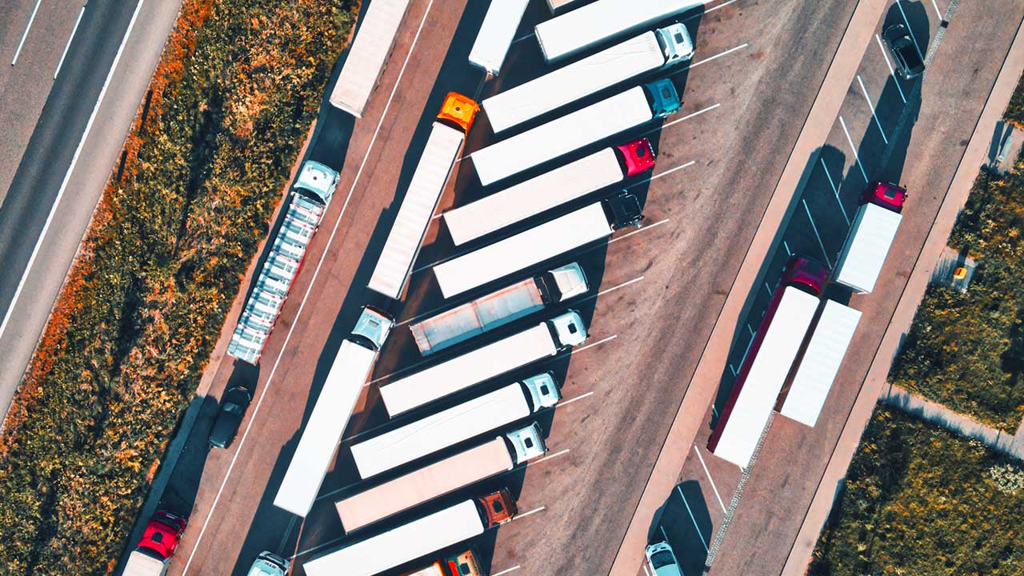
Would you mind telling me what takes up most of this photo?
paved ground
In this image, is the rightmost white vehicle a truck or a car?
truck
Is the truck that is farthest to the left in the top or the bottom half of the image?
bottom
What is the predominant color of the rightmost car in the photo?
black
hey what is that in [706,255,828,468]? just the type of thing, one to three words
truck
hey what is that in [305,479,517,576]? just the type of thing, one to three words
truck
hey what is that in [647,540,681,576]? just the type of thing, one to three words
vehicle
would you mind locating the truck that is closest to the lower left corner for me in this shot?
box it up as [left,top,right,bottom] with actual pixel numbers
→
[122,508,190,576]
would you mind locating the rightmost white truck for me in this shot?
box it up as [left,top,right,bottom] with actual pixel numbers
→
[771,177,908,426]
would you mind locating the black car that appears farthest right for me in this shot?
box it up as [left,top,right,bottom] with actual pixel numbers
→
[883,25,927,83]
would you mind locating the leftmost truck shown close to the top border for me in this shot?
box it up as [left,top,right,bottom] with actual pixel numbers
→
[330,0,420,122]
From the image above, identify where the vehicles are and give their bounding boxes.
[444,135,653,246]
[253,548,298,576]
[227,161,343,366]
[411,258,588,356]
[482,22,693,138]
[471,76,680,189]
[122,508,190,576]
[379,308,588,419]
[351,367,562,479]
[771,177,908,426]
[209,385,250,448]
[433,188,642,299]
[335,419,545,534]
[382,541,484,576]
[544,0,597,18]
[468,0,532,81]
[883,25,927,83]
[706,255,828,468]
[647,540,681,576]
[367,92,480,298]
[274,304,393,517]
[534,0,715,66]
[330,0,420,122]
[305,479,517,576]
